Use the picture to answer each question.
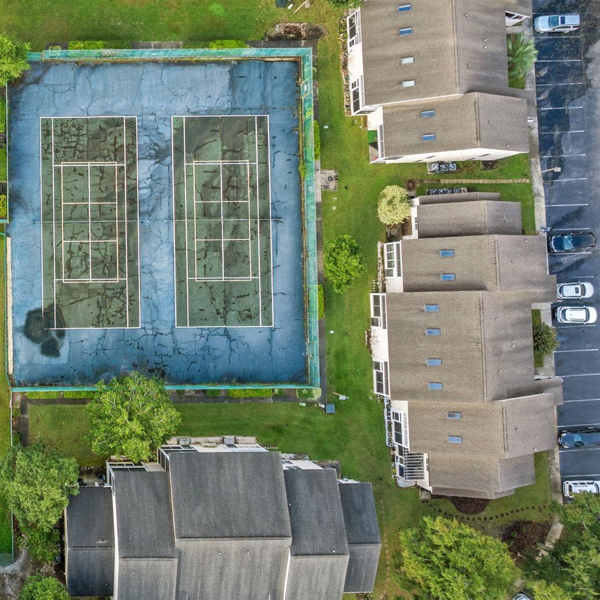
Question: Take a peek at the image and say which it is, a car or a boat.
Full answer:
The one in the frame is a car.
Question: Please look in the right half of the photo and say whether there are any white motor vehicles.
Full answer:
Yes, in the right half of the photo there is a white motor vehicle.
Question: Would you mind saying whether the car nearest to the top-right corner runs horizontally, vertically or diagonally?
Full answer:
In this picture, the car nearest to the top-right corner is oriented horizontally.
